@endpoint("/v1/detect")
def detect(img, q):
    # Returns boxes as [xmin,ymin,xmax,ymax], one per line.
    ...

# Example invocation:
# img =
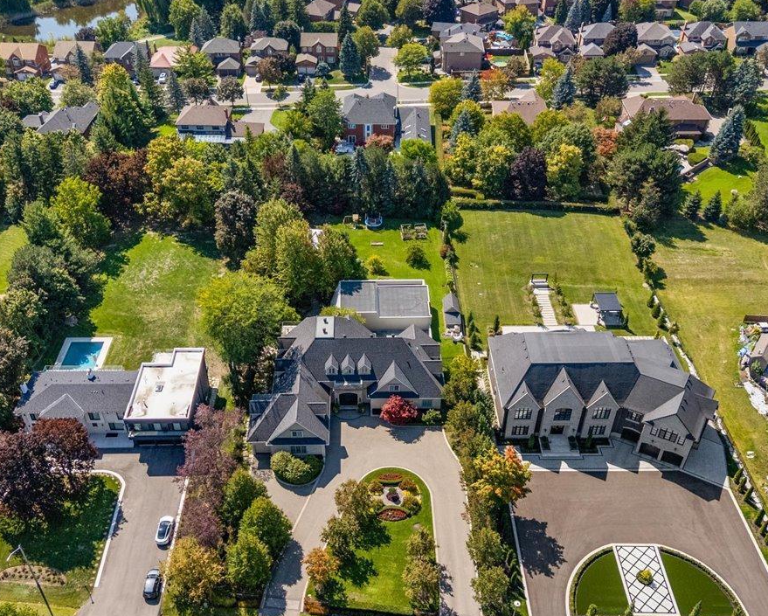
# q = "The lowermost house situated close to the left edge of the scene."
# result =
[13,344,209,445]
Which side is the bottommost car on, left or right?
left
